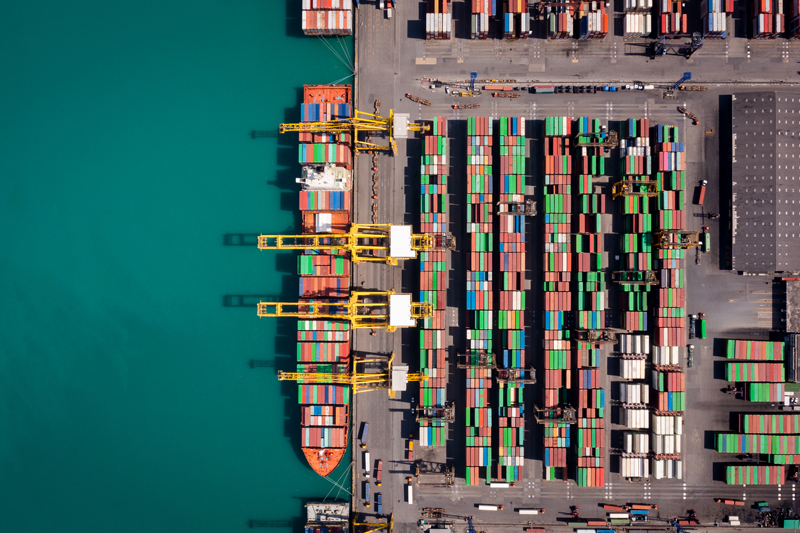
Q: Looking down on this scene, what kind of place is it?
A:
port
